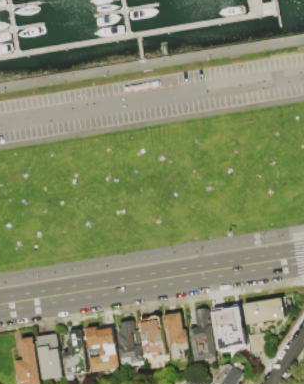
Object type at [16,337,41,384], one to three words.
house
